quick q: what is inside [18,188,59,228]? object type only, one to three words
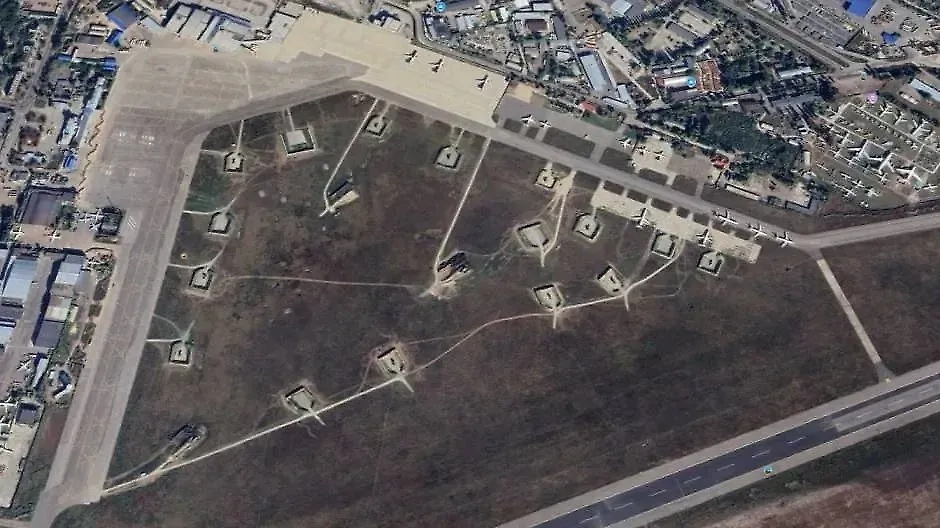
hangar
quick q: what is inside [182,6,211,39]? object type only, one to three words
hangar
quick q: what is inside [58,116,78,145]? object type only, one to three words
building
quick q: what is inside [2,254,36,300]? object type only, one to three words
building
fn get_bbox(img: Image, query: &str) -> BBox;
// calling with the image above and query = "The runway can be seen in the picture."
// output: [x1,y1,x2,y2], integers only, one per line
[498,361,940,528]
